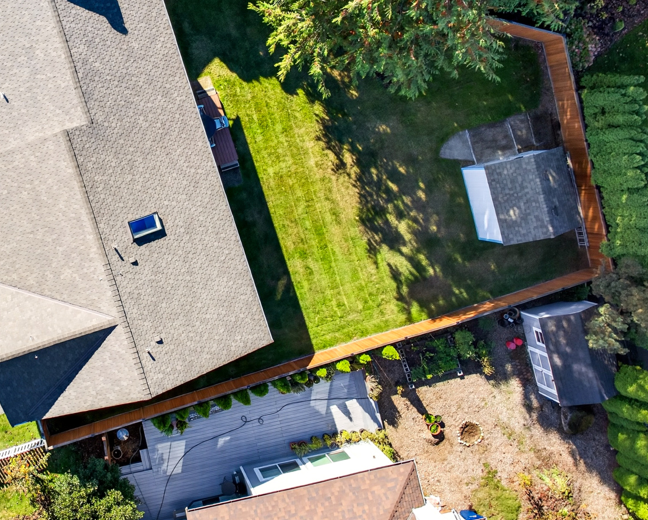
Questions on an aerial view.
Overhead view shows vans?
No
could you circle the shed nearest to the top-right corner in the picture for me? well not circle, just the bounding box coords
[461,145,577,247]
